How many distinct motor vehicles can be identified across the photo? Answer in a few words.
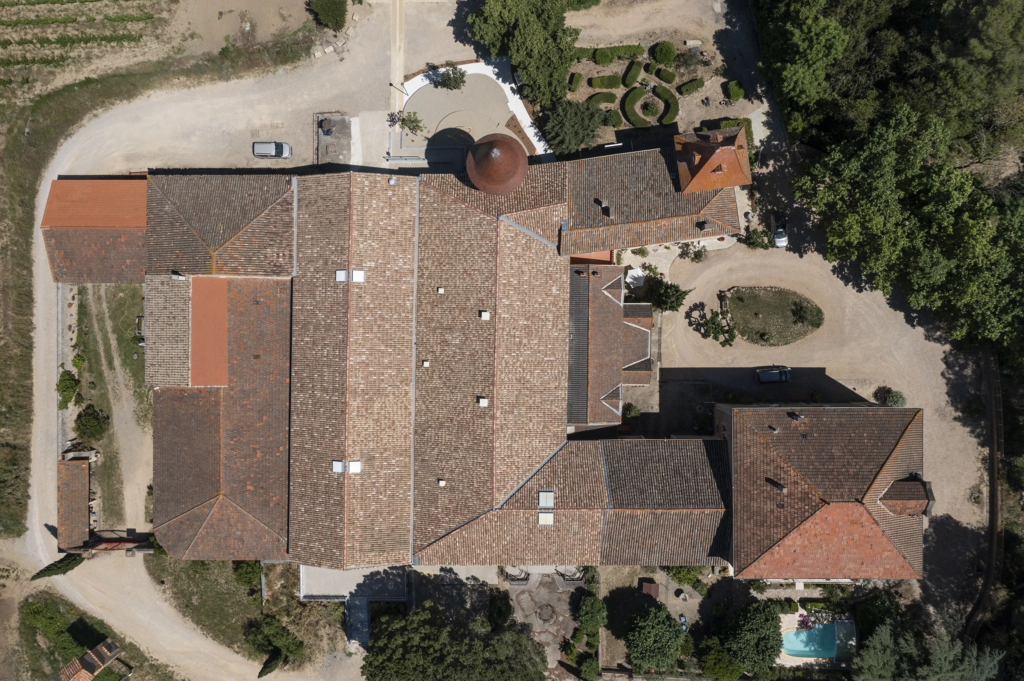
3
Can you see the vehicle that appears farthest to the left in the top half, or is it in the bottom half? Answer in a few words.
top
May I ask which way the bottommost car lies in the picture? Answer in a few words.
horizontally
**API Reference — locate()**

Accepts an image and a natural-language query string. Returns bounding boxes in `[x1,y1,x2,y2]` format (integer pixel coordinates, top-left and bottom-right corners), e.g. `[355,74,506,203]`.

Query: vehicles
[770,210,792,250]
[754,365,792,385]
[250,138,293,159]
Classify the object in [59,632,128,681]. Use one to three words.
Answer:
shed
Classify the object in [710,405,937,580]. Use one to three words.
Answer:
house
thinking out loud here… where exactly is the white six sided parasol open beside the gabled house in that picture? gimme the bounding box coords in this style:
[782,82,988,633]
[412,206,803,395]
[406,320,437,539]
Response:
[625,268,646,287]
